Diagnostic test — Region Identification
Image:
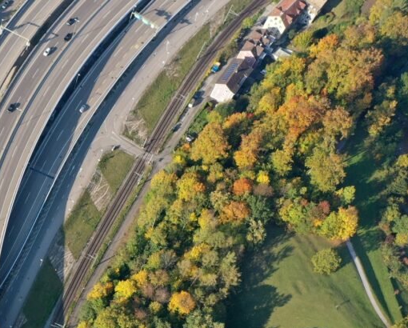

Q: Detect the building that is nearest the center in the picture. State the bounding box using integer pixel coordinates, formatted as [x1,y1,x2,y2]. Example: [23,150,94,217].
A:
[208,54,250,97]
